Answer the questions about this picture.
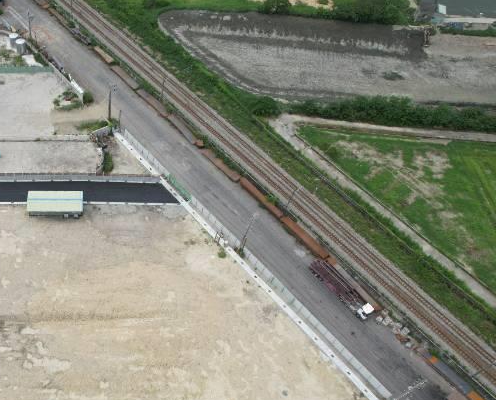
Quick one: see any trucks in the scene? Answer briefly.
Yes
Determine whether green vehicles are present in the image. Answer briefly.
No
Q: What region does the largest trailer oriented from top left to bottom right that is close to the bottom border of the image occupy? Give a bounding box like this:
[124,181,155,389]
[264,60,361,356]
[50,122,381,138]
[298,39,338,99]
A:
[416,347,475,398]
